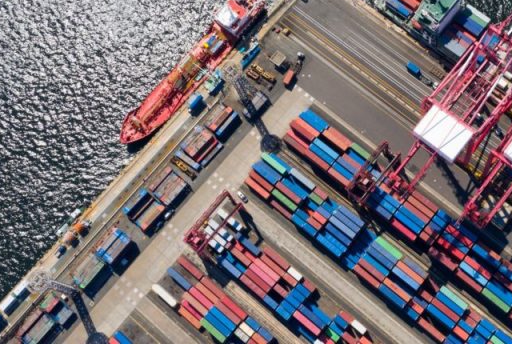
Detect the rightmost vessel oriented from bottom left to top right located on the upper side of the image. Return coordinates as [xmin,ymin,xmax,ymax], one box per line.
[119,0,270,142]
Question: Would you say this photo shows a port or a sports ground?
port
